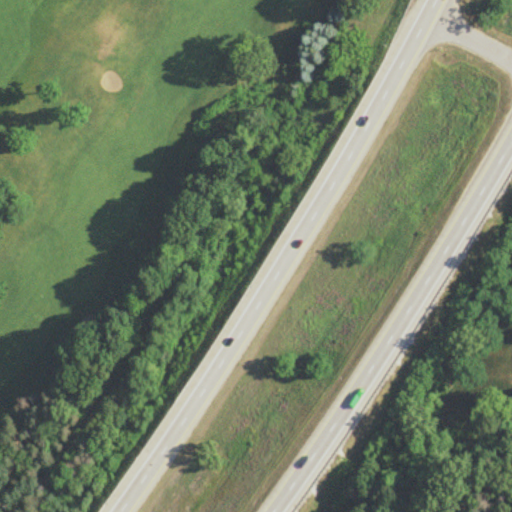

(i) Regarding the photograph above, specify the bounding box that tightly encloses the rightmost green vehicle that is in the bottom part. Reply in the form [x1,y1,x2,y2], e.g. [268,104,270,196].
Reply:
[349,388,365,409]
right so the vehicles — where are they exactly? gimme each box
[298,456,308,467]
[295,238,304,249]
[225,336,234,346]
[360,115,368,126]
[349,388,365,409]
